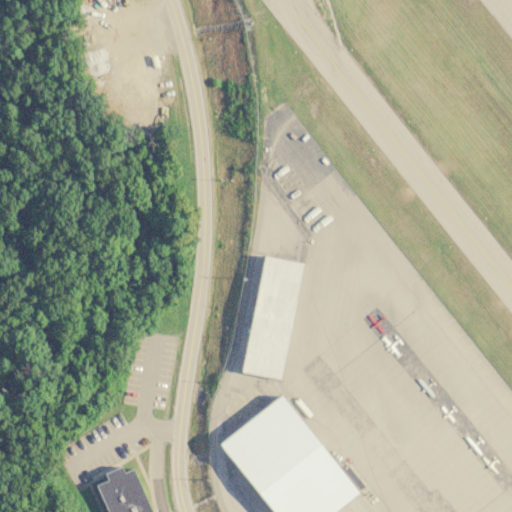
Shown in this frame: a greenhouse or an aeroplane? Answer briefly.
aeroplane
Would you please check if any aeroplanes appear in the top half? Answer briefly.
No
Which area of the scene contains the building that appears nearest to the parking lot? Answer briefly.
bottom left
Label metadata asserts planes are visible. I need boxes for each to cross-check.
[419,380,436,398]
[466,436,484,456]
[442,406,458,422]
[382,336,404,358]
[368,314,387,334]
[484,457,500,474]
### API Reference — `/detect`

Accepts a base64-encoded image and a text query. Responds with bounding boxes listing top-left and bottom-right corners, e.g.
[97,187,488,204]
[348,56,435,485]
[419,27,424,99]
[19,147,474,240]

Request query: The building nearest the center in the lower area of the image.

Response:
[242,258,304,379]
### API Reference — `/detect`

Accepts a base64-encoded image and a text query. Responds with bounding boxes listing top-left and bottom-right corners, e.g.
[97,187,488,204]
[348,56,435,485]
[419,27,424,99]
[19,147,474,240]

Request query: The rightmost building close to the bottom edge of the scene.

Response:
[221,397,360,512]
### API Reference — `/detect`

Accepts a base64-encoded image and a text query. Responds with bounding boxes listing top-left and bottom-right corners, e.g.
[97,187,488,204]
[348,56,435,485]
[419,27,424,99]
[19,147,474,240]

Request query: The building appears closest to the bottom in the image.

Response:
[98,468,153,512]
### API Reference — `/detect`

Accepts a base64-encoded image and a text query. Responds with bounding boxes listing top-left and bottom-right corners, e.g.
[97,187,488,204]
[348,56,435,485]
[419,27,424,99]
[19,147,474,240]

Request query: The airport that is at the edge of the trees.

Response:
[210,0,512,512]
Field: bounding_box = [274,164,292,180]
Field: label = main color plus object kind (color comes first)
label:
white vehicle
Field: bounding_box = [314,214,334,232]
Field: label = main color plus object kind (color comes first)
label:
white vehicle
